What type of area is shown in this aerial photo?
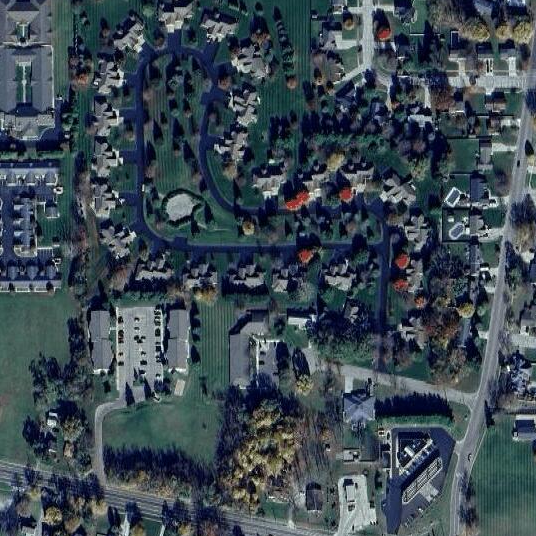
residential area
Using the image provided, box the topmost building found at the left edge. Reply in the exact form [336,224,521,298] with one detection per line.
[0,0,53,43]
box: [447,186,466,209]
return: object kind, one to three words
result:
swimming pool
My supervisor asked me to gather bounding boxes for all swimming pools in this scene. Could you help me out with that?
[449,224,464,238]
[447,186,466,209]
